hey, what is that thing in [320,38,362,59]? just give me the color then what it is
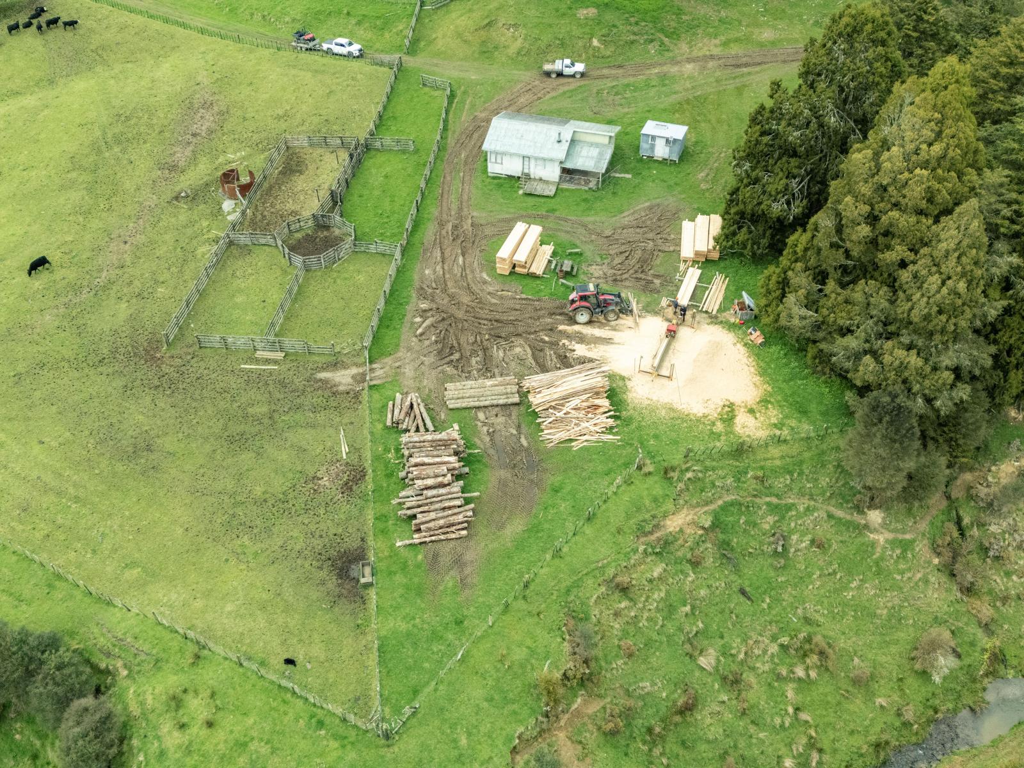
white truck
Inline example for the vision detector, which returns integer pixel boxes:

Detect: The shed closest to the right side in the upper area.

[642,118,685,160]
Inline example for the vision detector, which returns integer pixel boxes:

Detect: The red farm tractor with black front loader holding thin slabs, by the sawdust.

[567,288,638,325]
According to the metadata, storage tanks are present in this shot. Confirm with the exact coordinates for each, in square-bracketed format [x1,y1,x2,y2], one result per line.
[216,170,255,200]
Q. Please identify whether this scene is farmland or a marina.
farmland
